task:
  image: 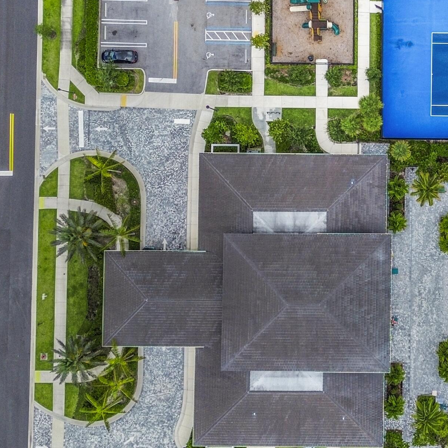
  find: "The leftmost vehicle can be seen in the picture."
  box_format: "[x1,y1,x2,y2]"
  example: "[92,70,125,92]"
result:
[100,47,137,64]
